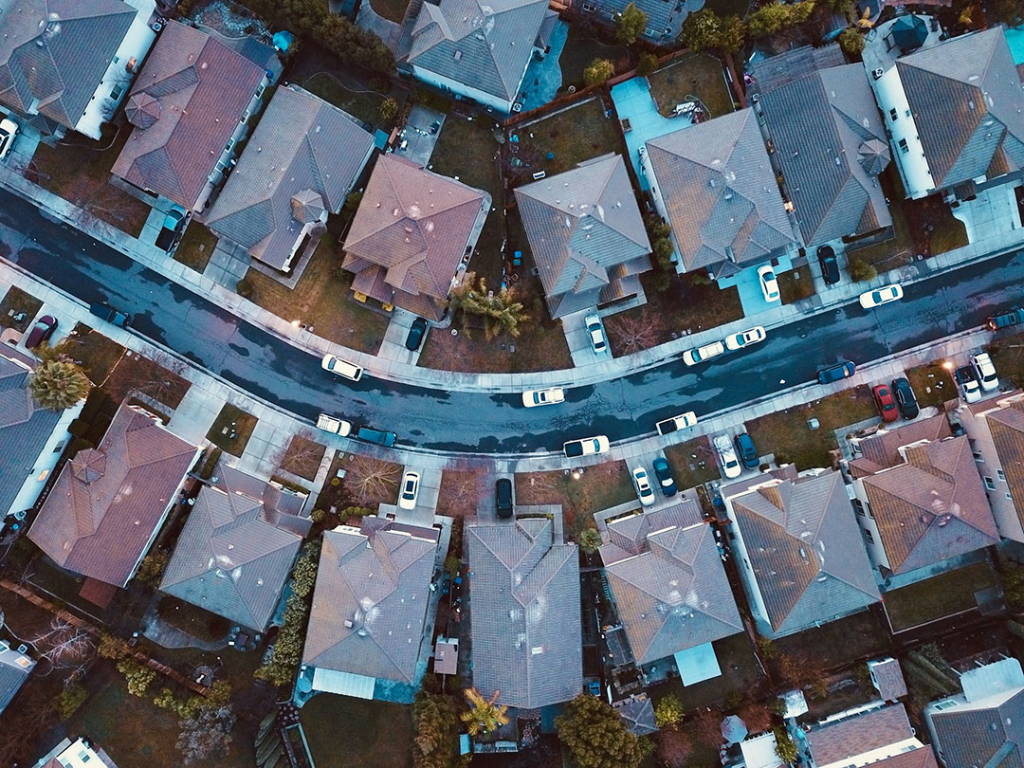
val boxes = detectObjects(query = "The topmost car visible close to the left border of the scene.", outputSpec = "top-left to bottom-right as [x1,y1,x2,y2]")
[0,118,23,164]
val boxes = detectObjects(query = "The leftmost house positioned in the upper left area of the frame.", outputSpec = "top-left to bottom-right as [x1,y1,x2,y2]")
[0,0,156,142]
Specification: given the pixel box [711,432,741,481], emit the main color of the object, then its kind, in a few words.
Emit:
white truck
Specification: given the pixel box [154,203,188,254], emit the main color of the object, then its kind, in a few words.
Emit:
blue truck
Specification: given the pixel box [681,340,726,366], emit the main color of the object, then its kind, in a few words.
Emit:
white car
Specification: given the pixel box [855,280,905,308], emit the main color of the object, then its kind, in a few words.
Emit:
white car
